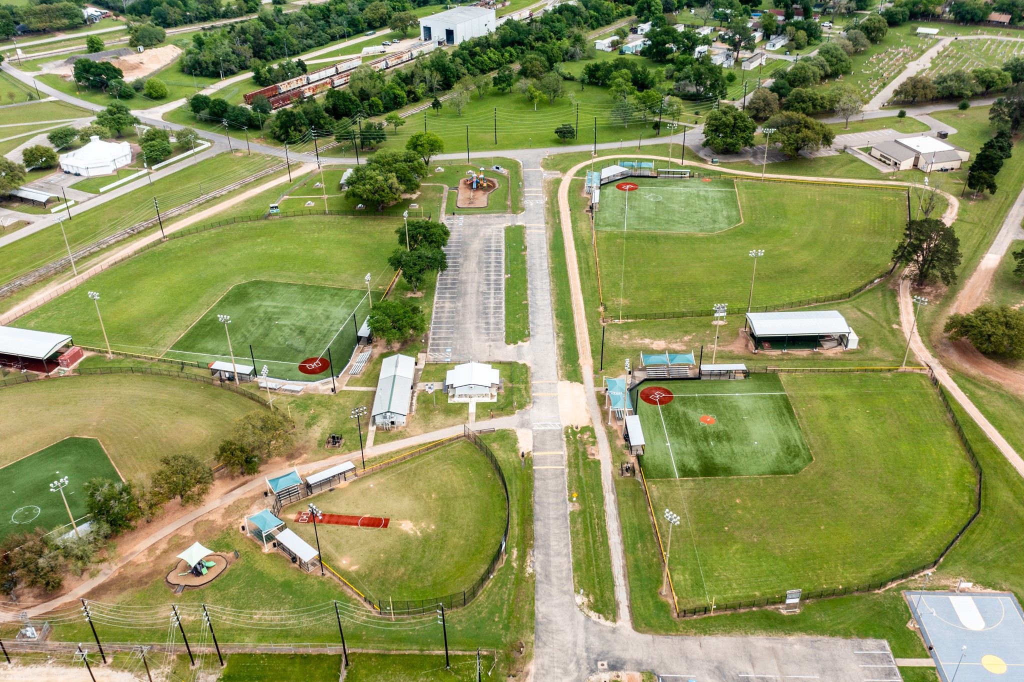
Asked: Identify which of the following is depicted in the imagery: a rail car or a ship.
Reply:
rail car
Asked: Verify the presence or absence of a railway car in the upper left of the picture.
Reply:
Yes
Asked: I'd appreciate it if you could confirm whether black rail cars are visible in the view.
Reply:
No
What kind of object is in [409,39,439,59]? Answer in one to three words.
rail car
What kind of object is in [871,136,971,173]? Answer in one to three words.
building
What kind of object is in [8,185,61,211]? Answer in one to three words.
building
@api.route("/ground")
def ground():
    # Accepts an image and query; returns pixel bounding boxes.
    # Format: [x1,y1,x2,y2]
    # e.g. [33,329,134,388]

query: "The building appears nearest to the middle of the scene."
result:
[442,360,503,398]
